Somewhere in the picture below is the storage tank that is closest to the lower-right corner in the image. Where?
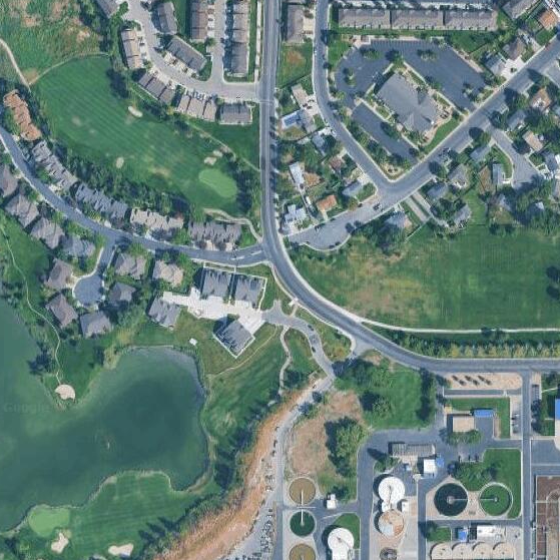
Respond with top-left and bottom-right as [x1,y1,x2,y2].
[476,484,511,516]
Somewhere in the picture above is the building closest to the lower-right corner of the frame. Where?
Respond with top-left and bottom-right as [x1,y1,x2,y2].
[477,527,505,541]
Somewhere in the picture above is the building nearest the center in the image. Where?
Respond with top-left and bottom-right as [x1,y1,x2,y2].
[234,275,265,304]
